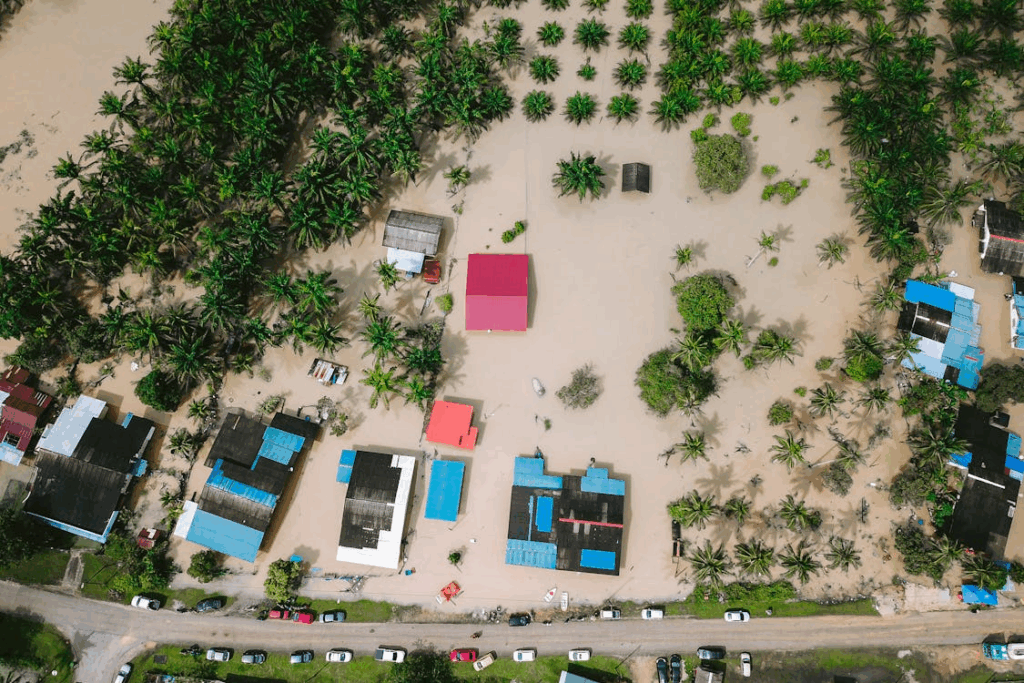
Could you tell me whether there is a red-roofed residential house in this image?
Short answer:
Yes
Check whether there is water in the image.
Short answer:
Yes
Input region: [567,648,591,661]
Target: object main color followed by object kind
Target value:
white vehicle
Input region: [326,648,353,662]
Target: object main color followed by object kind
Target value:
white car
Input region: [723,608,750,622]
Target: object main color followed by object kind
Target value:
white car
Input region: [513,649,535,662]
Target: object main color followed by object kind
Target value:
white vehicle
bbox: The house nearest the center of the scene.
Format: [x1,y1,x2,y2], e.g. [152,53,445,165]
[466,254,528,333]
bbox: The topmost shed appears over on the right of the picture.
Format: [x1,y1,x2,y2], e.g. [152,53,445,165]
[622,162,649,193]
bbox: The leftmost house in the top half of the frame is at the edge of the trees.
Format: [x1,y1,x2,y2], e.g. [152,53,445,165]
[382,210,443,273]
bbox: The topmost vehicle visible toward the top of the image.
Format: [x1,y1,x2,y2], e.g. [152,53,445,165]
[425,256,439,286]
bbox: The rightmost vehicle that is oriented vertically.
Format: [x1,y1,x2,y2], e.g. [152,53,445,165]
[738,649,752,677]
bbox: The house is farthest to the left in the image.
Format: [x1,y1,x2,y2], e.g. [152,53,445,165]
[0,365,60,466]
